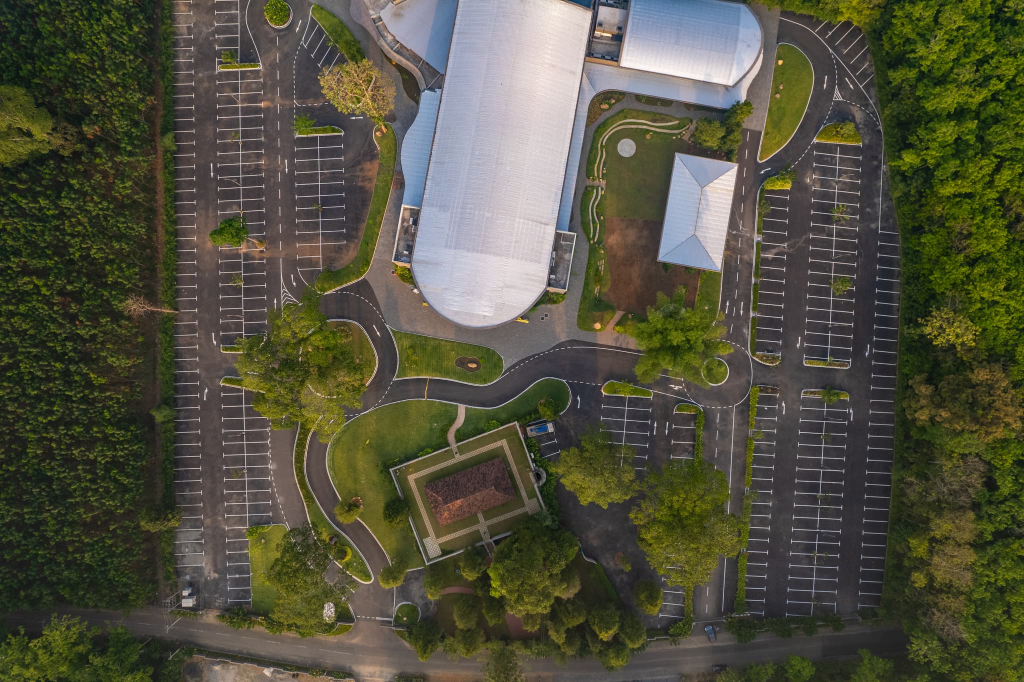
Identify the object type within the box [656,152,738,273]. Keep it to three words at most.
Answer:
building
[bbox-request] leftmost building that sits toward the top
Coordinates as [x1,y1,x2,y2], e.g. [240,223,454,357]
[362,0,596,330]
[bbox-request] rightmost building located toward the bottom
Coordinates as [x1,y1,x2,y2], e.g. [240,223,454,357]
[424,456,517,528]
